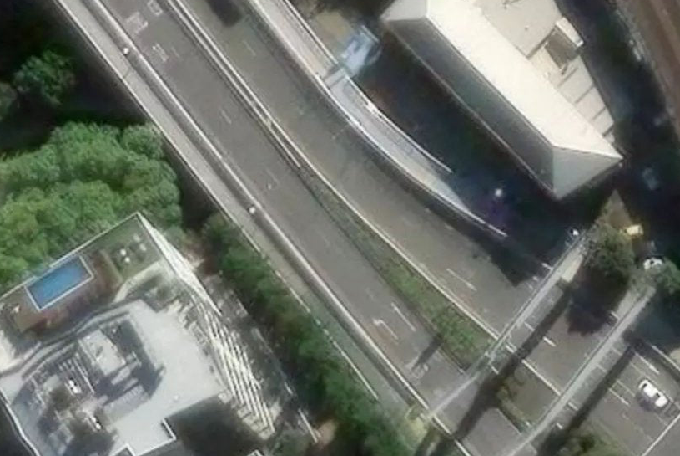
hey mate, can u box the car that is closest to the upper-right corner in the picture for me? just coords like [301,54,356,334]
[640,163,662,194]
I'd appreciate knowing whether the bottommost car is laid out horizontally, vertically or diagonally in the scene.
diagonally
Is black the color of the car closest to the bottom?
No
